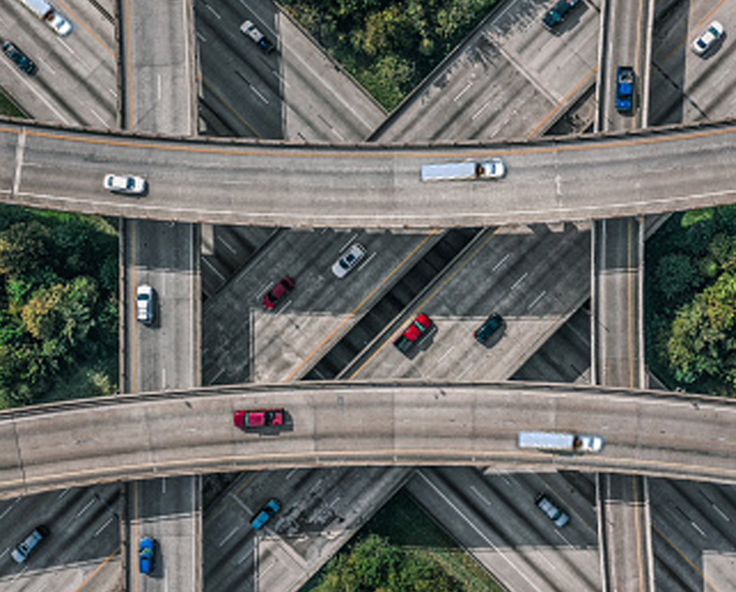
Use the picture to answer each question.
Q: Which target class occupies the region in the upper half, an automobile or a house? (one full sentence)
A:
The one visible in the upper half is an automobile.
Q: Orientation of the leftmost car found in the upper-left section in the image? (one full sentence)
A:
The leftmost car found in the upper-left section is laid out on a diagonal.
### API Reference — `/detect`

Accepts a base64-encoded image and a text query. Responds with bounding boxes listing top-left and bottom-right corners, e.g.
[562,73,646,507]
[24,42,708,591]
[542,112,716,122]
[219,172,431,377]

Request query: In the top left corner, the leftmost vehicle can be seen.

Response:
[1,40,36,74]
